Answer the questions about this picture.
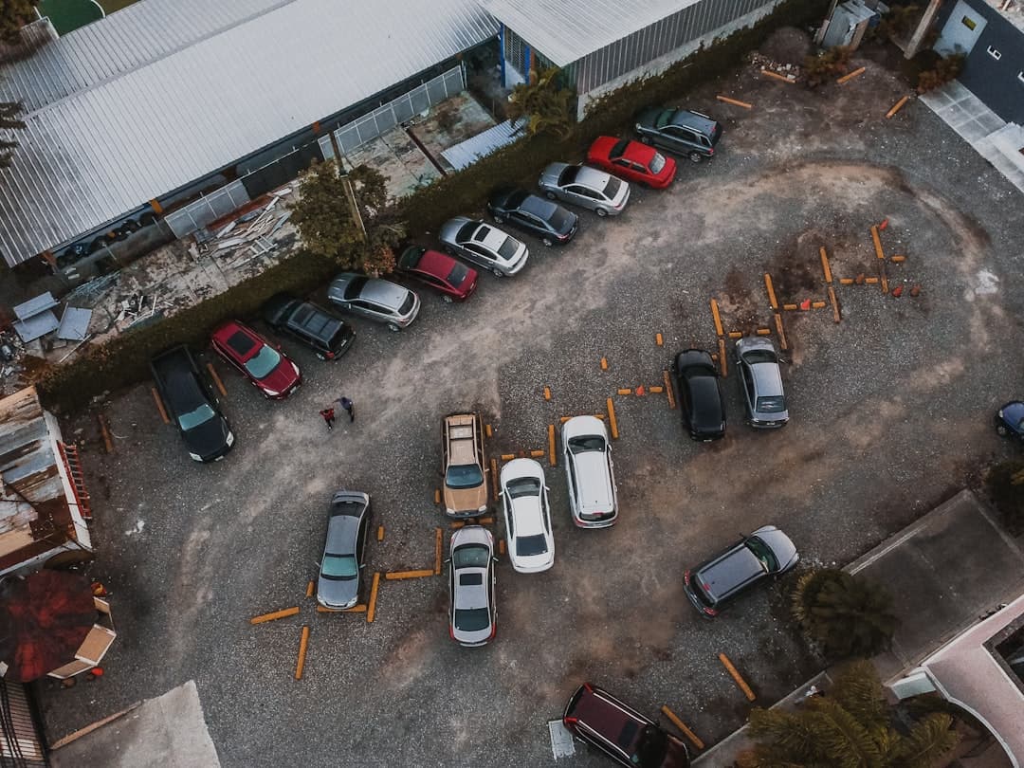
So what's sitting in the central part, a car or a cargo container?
car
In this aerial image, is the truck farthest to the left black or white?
black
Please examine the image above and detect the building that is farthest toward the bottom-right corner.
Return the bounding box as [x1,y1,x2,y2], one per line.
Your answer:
[909,589,1024,768]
